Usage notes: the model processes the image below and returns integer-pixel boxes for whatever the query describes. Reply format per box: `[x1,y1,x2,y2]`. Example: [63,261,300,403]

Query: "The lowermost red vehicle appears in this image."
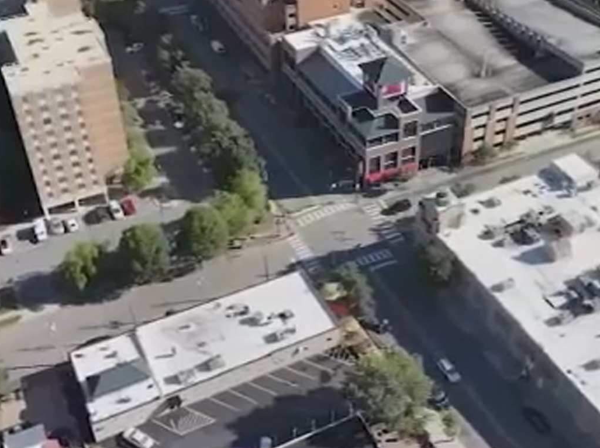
[121,195,136,216]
